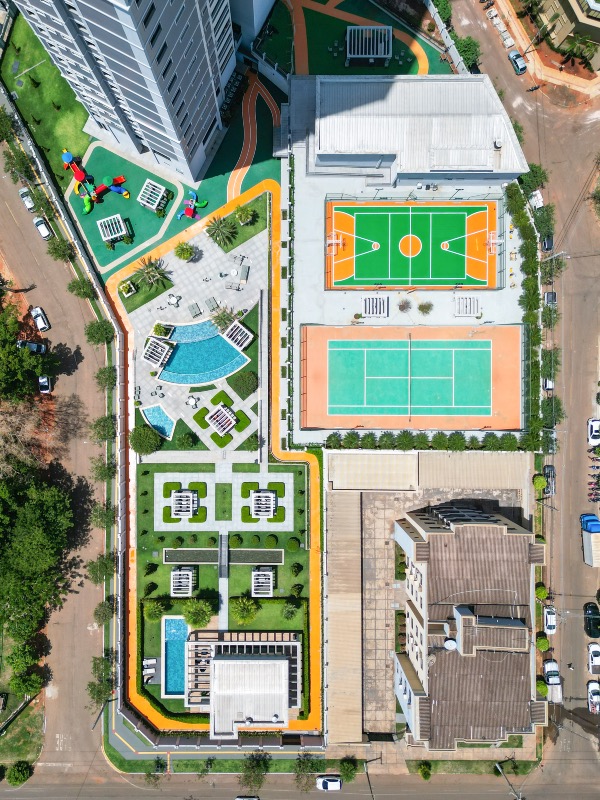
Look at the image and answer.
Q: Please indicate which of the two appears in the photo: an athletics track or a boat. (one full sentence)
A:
Of the two, only an athletics track appears.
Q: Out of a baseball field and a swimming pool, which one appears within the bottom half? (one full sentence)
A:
You can see a swimming pool within the bottom half.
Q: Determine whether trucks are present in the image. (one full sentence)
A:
Yes, a truck is visible in the scene.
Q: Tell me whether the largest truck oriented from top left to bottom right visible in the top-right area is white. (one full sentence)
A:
Yes, the largest truck oriented from top left to bottom right visible in the top-right area appears white.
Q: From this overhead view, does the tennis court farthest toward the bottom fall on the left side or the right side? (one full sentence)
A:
It is on the right.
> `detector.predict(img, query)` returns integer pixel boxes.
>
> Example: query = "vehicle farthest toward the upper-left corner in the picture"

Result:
[17,187,38,215]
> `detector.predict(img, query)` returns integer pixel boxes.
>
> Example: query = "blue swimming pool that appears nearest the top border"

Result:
[156,315,252,384]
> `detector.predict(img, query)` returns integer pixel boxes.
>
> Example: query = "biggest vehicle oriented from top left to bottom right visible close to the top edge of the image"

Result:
[483,7,519,52]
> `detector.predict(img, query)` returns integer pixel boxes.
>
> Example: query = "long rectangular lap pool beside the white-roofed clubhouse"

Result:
[162,616,191,698]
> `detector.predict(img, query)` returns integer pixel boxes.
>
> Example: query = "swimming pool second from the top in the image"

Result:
[141,403,176,440]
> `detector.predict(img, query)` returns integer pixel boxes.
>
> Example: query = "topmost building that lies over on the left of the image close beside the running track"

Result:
[12,0,238,181]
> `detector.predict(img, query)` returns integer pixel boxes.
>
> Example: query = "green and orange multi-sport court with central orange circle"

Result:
[326,201,497,290]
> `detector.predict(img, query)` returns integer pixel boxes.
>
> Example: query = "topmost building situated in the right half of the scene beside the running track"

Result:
[316,75,529,184]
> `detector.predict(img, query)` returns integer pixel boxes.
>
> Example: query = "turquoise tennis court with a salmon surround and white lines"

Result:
[302,326,522,428]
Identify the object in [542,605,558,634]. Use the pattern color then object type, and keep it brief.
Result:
white car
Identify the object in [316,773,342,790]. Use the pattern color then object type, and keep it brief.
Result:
white car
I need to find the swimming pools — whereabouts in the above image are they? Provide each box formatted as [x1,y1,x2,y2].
[156,315,252,384]
[162,616,191,698]
[141,403,176,440]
